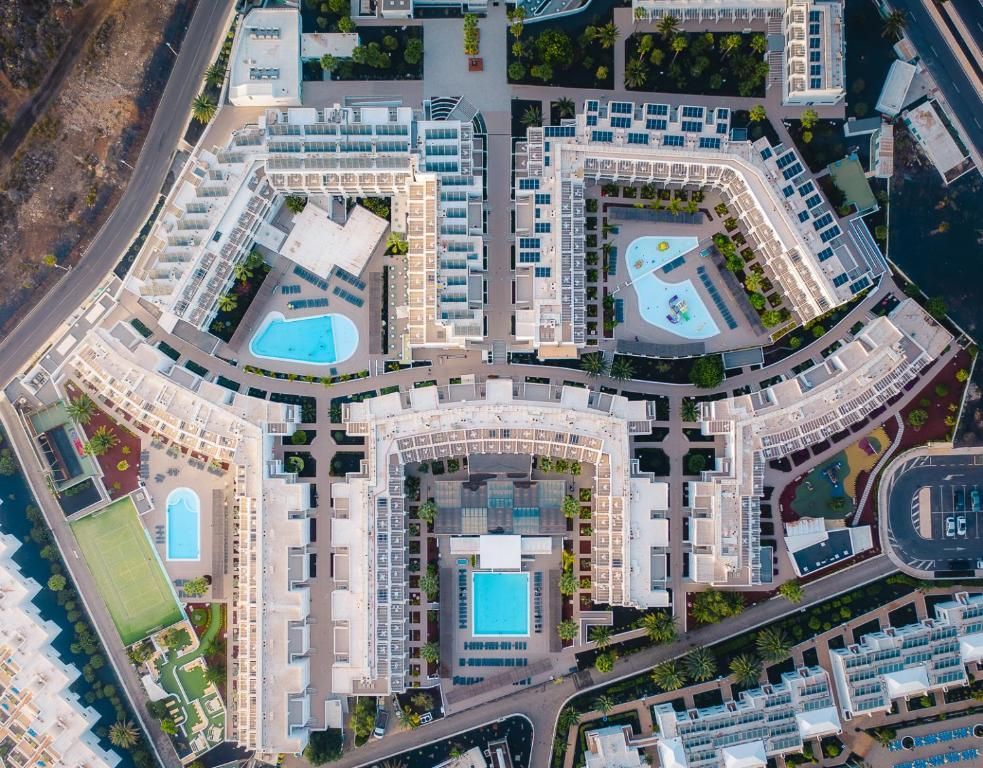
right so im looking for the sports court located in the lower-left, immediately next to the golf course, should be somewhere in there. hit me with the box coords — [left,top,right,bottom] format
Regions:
[62,496,185,652]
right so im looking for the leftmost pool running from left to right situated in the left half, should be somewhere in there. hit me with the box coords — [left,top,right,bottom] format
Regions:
[250,313,358,365]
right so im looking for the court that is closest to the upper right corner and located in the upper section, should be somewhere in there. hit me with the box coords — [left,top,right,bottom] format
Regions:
[827,152,881,207]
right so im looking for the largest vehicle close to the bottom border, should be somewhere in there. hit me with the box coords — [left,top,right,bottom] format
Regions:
[374,711,387,739]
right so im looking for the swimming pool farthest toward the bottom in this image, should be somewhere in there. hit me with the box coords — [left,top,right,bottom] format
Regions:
[472,572,530,636]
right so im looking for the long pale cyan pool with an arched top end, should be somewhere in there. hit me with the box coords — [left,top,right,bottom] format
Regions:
[165,488,200,561]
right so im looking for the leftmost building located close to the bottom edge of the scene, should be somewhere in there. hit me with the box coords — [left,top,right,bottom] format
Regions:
[0,551,122,768]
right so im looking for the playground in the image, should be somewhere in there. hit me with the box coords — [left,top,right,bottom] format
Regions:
[794,430,888,517]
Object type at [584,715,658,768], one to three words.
house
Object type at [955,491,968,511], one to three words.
vehicle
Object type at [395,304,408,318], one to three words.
umbrella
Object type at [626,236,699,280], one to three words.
swimming pool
